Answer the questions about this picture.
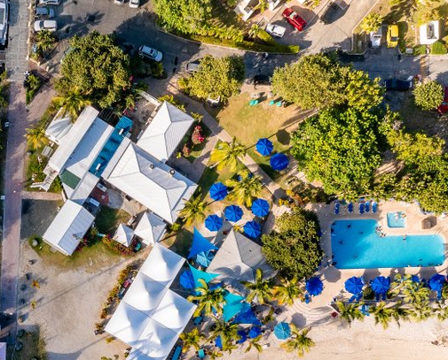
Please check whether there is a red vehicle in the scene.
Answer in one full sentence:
Yes, you can see a red vehicle in this photo.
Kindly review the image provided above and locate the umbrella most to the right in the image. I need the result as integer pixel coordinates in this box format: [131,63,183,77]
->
[425,274,443,292]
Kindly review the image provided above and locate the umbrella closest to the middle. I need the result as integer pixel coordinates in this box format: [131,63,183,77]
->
[208,184,226,201]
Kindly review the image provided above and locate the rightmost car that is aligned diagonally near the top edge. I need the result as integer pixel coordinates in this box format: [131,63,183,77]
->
[316,1,339,27]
